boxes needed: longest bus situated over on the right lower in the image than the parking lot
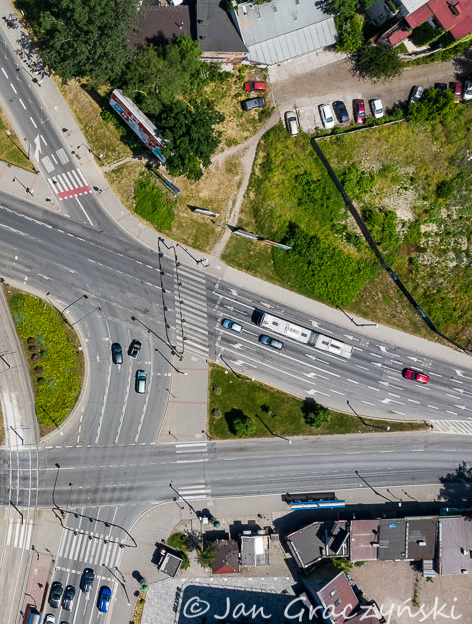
[249,304,357,359]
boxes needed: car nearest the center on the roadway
[220,318,243,333]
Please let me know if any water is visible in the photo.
No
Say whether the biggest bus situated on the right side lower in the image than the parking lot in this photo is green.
No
